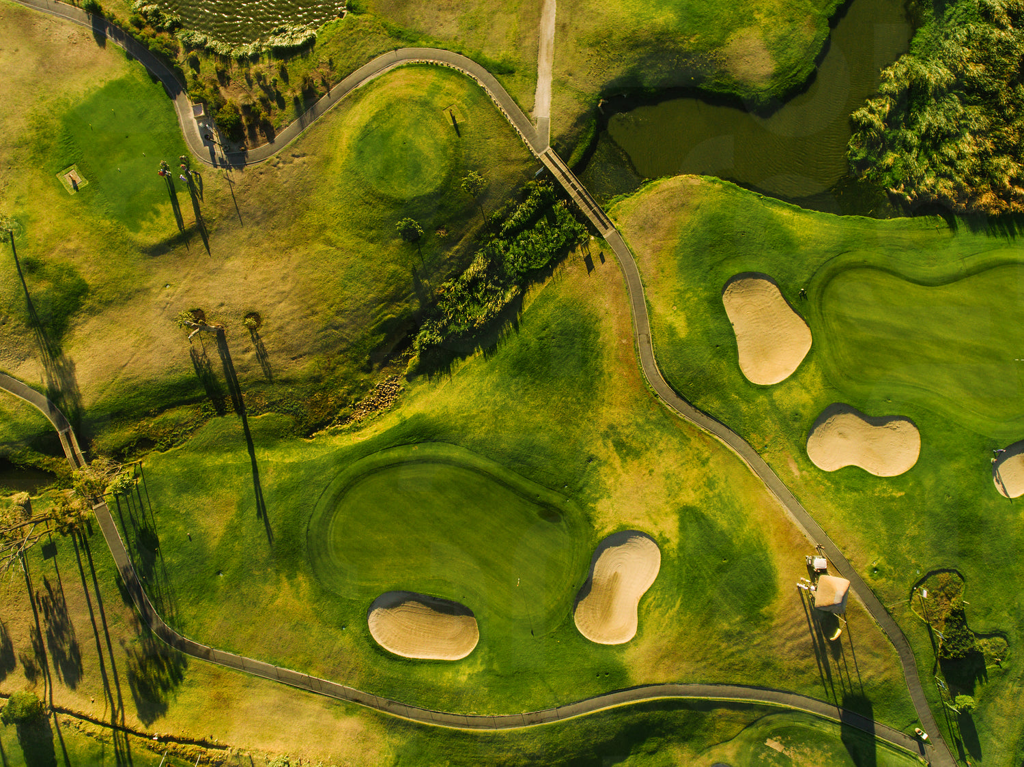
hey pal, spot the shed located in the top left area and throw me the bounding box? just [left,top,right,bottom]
[188,100,212,122]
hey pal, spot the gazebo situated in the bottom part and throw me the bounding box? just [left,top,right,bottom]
[803,568,856,614]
